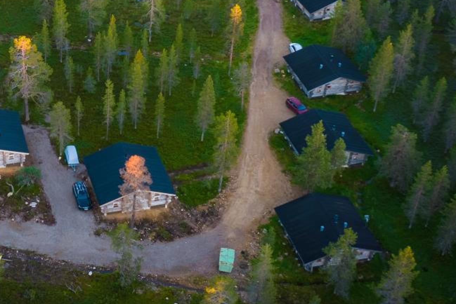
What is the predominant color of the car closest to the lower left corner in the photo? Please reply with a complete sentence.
From above, the car closest to the lower left corner appears blue.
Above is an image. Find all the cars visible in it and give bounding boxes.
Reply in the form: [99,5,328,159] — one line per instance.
[286,38,307,53]
[281,91,314,115]
[70,177,94,212]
